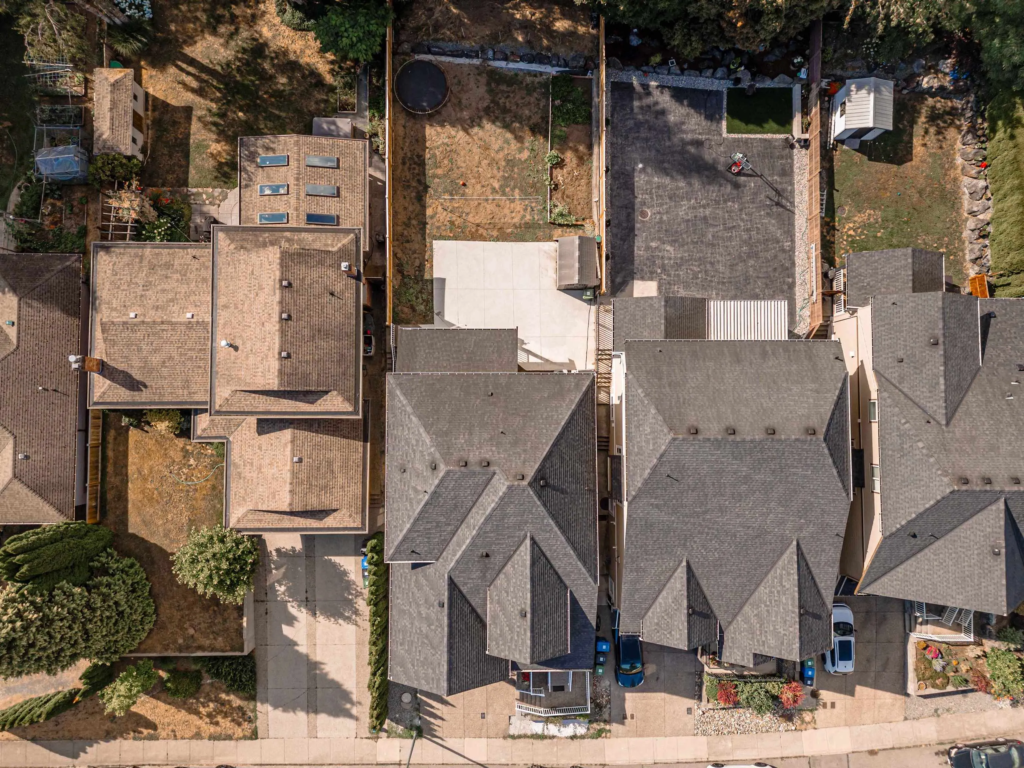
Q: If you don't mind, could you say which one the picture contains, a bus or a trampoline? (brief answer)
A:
trampoline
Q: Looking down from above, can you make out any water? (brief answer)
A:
No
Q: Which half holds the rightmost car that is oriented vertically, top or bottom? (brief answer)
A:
bottom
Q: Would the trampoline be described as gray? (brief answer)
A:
No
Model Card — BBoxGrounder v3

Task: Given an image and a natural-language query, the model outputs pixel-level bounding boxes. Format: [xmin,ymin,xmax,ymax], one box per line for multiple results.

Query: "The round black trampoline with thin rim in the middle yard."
[395,59,450,117]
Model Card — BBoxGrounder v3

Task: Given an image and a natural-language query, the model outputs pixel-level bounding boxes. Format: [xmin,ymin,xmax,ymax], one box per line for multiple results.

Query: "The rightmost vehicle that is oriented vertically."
[820,602,859,677]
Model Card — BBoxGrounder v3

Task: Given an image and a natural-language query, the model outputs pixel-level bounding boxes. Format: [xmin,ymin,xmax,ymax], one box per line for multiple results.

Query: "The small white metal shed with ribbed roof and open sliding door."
[834,75,894,137]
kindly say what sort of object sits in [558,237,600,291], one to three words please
shed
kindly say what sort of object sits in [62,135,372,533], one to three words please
house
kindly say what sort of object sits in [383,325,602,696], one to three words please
house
